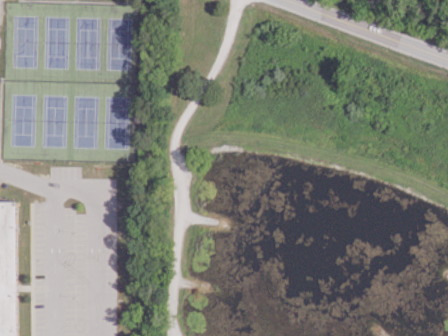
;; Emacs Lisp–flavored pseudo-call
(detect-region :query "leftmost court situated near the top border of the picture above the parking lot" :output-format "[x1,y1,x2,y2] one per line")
[12,16,39,70]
